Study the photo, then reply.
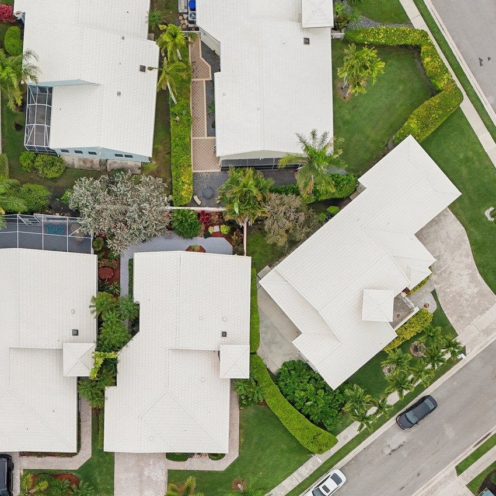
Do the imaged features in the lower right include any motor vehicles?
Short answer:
Yes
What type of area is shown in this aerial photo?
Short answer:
residential area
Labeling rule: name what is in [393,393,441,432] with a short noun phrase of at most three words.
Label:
car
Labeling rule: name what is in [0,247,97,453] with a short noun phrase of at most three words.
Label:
house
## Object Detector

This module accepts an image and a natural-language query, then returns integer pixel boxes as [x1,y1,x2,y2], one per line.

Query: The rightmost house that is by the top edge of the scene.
[196,0,334,166]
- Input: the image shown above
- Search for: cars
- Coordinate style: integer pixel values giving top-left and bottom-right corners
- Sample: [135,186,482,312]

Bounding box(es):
[393,393,441,432]
[301,468,349,496]
[0,455,13,496]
